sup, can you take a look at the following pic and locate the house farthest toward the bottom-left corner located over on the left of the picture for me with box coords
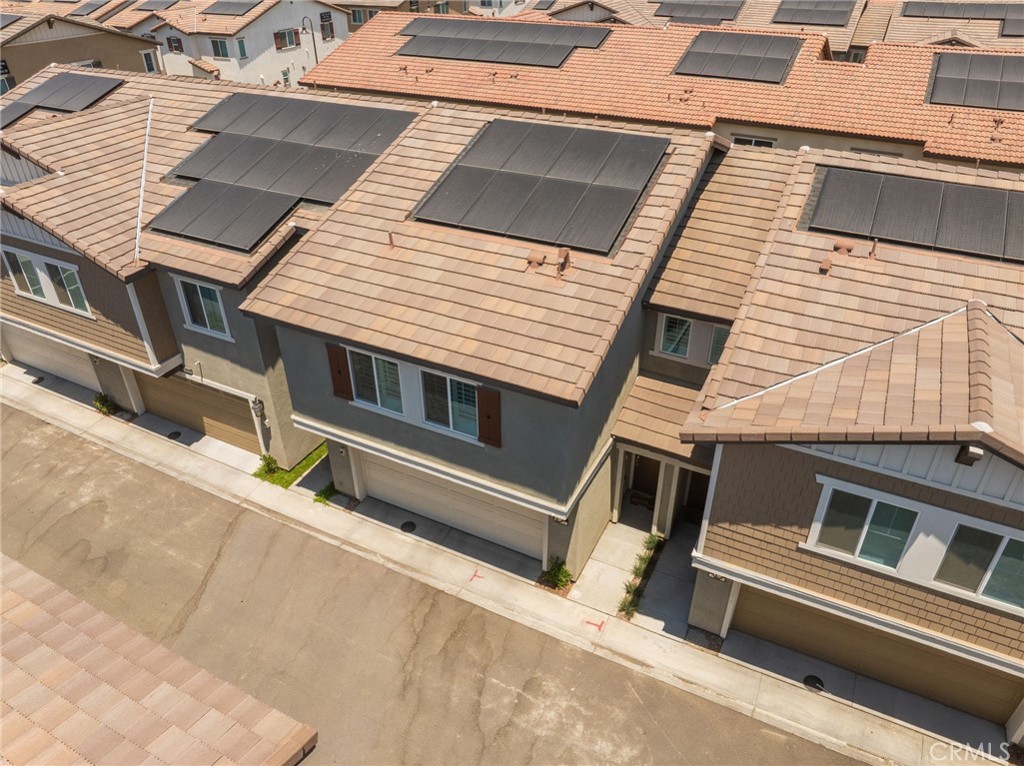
[0,554,321,766]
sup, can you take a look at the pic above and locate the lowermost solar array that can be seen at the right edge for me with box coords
[807,169,1024,266]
